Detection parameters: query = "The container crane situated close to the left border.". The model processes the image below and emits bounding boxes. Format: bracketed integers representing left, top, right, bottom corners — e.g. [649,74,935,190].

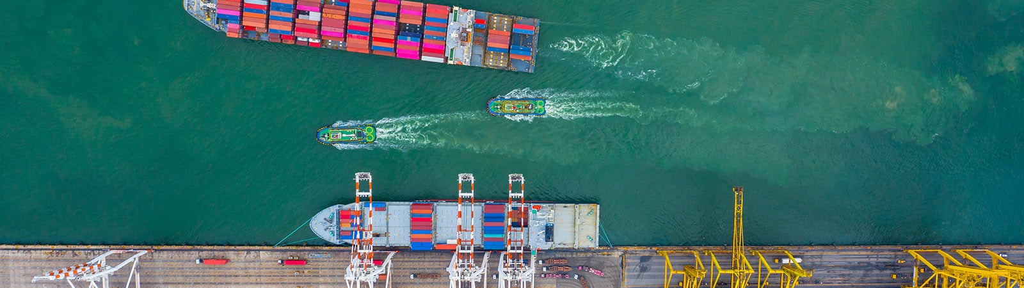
[36,251,155,288]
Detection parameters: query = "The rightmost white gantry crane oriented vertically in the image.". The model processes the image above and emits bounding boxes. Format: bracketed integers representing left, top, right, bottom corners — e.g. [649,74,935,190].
[497,174,538,288]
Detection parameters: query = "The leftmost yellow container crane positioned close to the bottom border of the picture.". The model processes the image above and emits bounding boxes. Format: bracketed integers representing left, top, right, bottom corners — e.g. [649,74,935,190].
[655,251,709,288]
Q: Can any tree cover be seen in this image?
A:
No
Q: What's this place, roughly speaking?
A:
port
